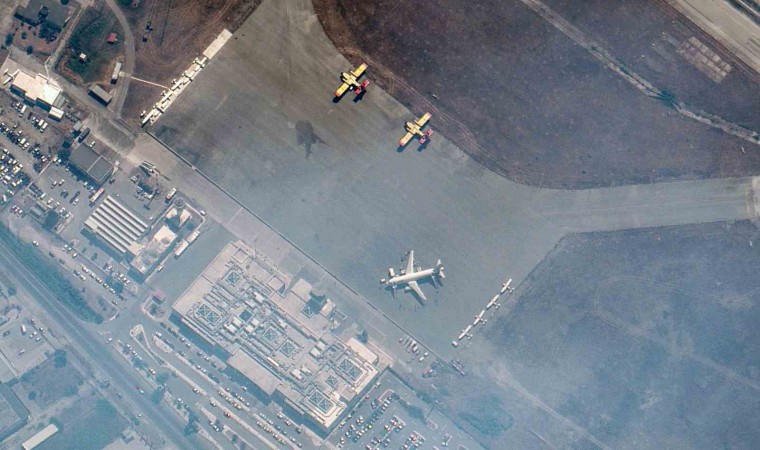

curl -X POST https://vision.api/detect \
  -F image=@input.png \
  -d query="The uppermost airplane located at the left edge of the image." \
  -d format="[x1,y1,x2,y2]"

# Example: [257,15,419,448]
[1,68,19,83]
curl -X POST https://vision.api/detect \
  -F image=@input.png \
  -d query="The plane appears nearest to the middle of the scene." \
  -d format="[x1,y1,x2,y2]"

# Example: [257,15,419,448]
[387,250,443,299]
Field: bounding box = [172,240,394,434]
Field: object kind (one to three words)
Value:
building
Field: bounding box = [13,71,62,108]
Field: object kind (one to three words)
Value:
hangar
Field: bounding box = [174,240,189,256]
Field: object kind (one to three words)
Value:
vehicle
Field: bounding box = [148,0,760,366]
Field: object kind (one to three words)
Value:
airport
